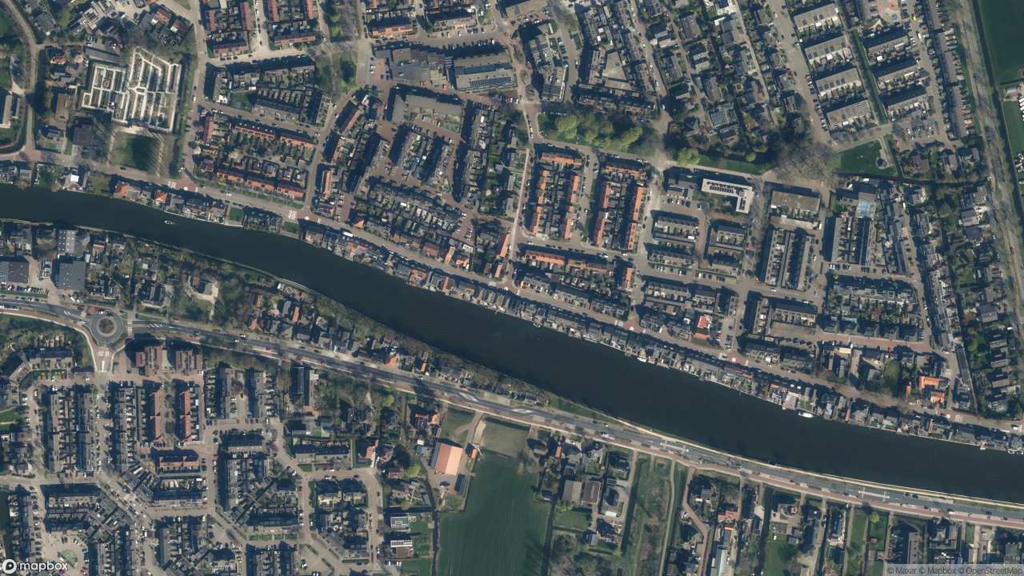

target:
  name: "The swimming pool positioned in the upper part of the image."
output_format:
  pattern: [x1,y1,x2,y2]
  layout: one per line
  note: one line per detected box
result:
[855,204,876,218]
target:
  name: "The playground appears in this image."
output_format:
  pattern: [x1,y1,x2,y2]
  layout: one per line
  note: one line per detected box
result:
[877,0,901,22]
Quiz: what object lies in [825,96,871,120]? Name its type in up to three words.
shed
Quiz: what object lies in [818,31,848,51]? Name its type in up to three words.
shed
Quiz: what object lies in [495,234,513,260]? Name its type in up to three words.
house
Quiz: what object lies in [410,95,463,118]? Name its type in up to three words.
building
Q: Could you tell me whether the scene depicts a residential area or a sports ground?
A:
residential area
